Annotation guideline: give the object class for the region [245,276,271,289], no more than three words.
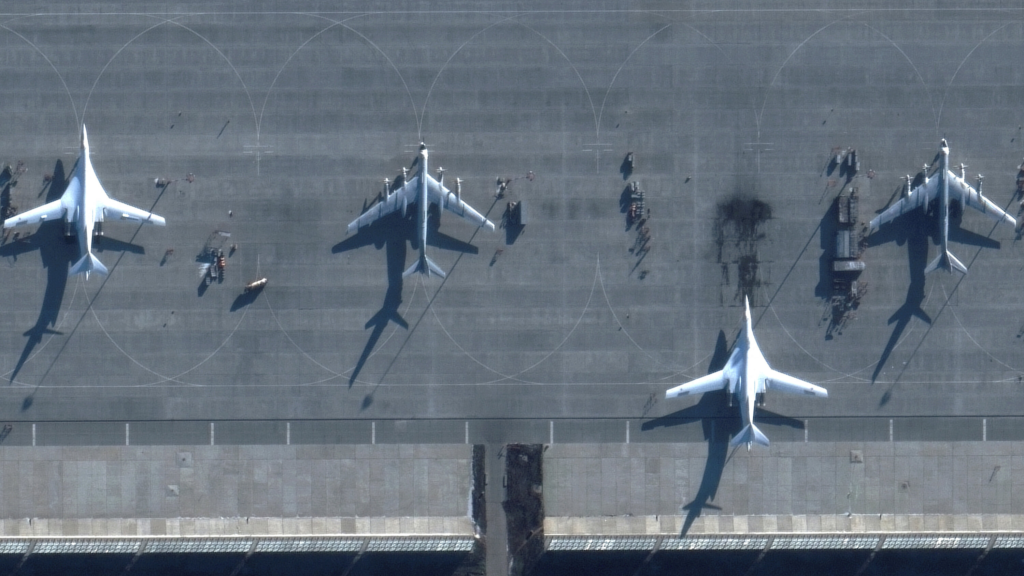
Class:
vehicle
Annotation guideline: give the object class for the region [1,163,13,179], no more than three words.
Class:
vehicle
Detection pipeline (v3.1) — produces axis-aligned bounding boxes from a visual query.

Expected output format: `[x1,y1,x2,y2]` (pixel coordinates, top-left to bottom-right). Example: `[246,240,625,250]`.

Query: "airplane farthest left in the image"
[4,124,165,280]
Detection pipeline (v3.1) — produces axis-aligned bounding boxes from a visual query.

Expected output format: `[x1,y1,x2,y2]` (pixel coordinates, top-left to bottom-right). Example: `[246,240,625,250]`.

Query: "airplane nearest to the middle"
[348,142,494,277]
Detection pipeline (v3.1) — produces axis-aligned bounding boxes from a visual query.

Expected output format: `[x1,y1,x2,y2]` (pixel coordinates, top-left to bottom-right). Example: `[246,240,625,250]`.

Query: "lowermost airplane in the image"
[667,295,827,452]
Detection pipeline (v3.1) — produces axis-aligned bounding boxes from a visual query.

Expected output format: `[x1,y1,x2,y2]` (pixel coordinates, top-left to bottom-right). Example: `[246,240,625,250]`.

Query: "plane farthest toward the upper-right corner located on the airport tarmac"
[870,138,1016,273]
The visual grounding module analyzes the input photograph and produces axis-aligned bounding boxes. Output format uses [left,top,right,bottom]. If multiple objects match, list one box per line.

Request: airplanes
[667,295,827,452]
[348,142,494,277]
[870,138,1016,273]
[4,124,165,280]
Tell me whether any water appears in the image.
No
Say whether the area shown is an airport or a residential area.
airport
